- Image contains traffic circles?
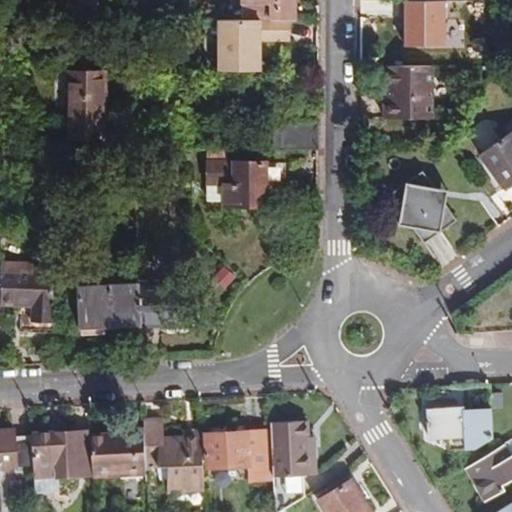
Yes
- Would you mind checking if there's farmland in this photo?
No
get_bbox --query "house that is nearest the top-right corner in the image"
[403,0,448,47]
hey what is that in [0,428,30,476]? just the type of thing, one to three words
house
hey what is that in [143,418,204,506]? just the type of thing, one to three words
house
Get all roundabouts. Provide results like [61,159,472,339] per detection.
[254,250,464,412]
